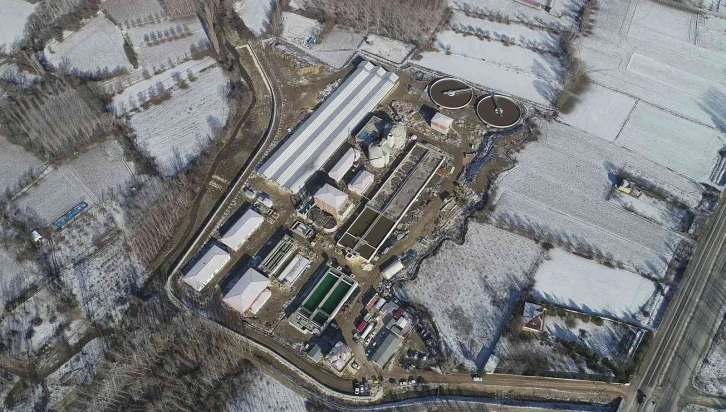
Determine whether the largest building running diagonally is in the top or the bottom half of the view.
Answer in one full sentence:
The top half of the photo is where the largest building running diagonally is.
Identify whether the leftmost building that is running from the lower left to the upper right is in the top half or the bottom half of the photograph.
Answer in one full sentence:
You can find the leftmost building that is running from the lower left to the upper right in the bottom half.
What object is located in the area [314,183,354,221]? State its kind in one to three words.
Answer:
building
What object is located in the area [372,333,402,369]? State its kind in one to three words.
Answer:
shed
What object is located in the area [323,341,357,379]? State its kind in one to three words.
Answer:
house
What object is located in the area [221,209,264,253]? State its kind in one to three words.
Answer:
building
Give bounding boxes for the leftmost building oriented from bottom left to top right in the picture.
[183,245,232,294]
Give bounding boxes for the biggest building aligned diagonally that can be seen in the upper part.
[258,63,397,198]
